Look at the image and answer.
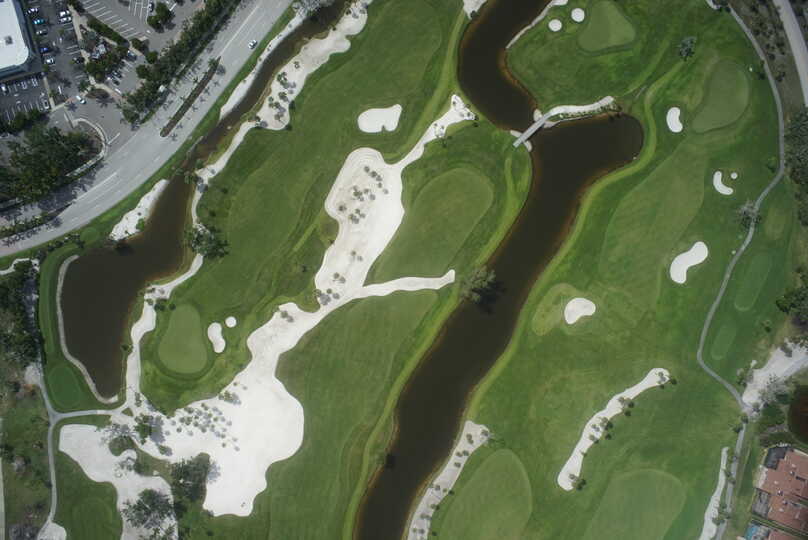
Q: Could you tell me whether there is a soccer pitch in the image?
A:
No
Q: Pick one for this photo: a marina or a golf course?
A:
golf course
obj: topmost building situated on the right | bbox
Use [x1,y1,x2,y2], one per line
[752,445,808,506]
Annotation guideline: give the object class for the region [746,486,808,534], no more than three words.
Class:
house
